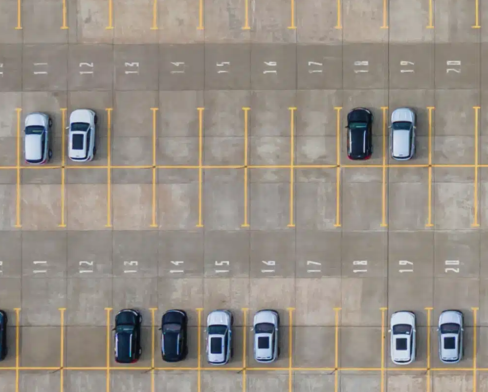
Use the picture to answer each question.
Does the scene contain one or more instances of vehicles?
Yes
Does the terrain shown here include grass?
No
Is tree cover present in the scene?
No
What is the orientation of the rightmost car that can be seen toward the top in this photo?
from top to bottom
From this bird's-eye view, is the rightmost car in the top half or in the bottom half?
bottom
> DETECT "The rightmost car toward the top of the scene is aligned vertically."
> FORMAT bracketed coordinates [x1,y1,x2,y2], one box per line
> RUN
[390,107,417,161]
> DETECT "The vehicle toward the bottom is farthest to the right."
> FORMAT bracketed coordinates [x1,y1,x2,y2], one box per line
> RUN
[437,309,464,364]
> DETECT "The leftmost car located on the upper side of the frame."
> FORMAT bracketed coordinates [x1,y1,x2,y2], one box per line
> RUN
[24,113,52,165]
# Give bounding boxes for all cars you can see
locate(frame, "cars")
[69,109,97,162]
[390,310,417,364]
[160,308,188,361]
[114,308,142,362]
[206,309,233,365]
[0,309,8,361]
[390,107,417,161]
[252,308,280,362]
[24,113,52,165]
[346,107,373,160]
[437,309,464,364]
